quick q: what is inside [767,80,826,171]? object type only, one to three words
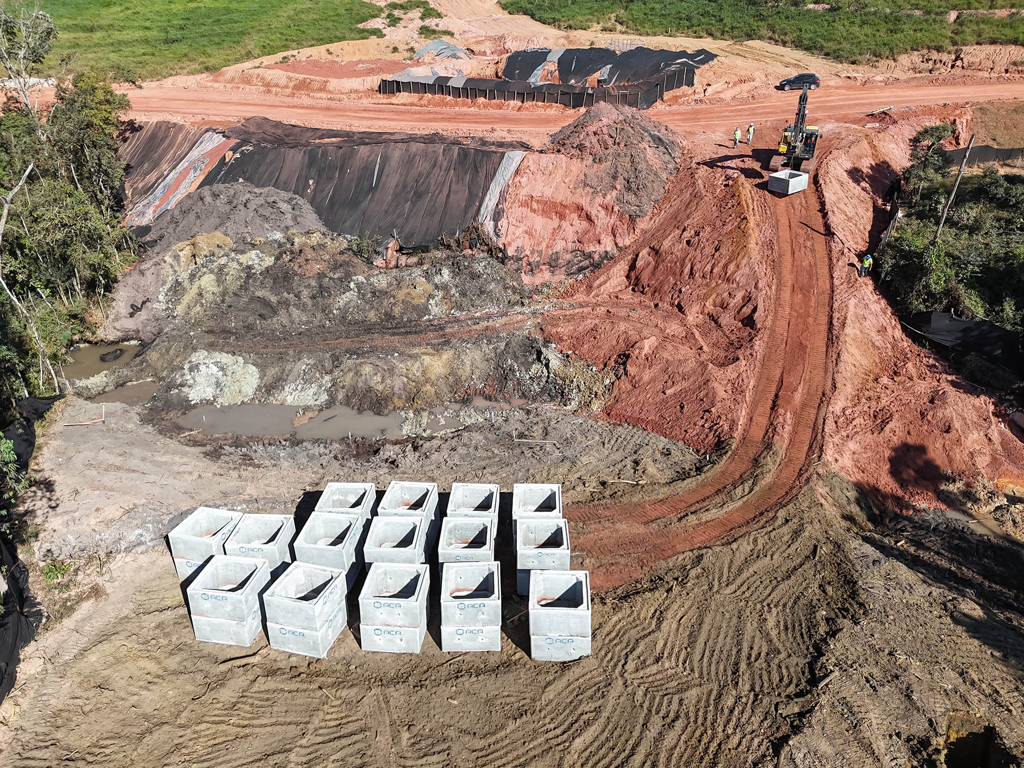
work vehicle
